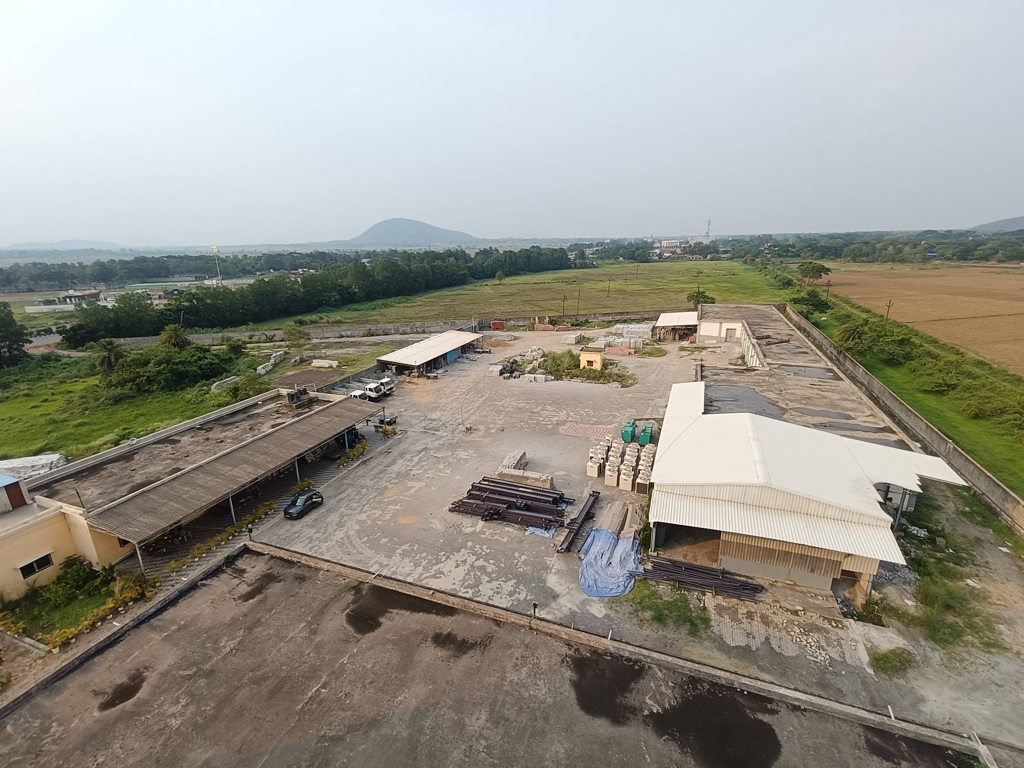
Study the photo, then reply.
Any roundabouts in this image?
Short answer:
No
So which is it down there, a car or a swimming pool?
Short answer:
car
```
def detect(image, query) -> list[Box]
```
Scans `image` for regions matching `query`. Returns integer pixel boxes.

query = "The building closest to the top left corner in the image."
[50,288,104,304]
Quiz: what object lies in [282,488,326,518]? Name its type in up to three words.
car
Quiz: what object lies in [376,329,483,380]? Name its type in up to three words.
shed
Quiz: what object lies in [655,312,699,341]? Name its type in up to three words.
shed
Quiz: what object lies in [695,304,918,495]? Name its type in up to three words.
building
